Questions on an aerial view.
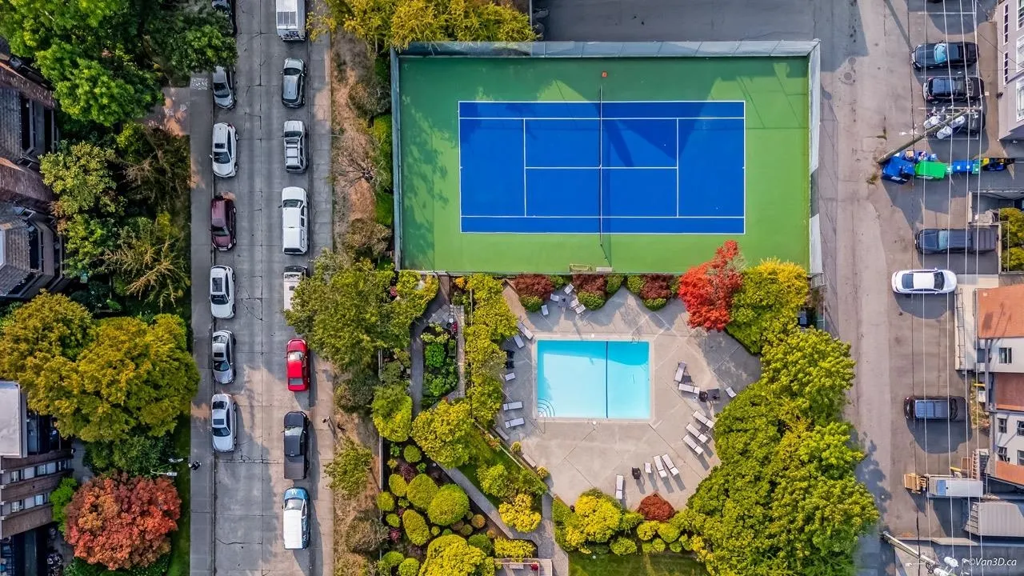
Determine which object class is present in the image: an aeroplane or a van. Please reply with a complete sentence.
It is a van that can be seen here.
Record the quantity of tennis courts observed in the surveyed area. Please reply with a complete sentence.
My tally gives 1 tennis court in this photo.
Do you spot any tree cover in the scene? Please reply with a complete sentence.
Yes, there is tree cover in the image.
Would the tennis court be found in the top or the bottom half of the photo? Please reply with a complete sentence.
The tennis court sits in the top half of the picture.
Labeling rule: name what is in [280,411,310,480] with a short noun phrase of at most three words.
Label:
truck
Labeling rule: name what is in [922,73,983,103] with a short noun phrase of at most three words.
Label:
car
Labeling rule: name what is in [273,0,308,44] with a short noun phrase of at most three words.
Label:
van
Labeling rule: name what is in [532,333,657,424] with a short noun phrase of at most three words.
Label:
swimming pool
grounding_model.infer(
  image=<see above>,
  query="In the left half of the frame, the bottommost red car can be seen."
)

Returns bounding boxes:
[283,339,311,392]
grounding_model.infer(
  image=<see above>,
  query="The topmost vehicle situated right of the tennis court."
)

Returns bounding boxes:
[911,41,979,71]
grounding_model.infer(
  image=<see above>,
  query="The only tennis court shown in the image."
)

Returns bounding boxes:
[400,57,811,273]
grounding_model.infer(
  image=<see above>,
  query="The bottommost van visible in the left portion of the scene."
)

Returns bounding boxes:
[280,487,310,549]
